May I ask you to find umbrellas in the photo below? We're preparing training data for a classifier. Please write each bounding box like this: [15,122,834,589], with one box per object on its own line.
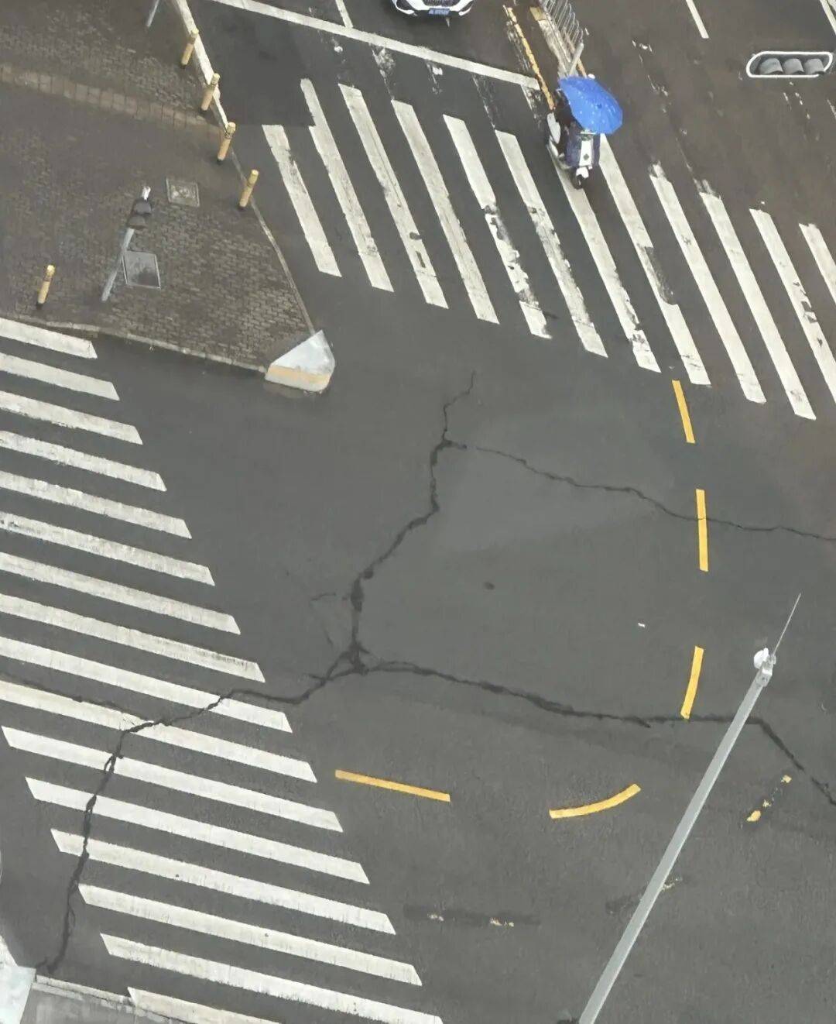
[560,76,623,134]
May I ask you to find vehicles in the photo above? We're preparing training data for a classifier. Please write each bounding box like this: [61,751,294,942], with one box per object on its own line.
[376,0,473,19]
[554,93,599,189]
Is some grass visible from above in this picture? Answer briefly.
No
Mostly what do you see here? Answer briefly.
paved ground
